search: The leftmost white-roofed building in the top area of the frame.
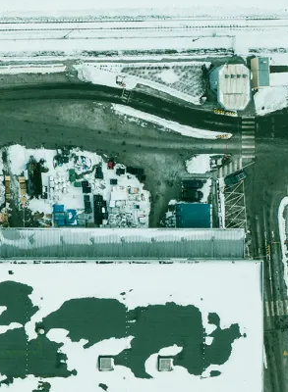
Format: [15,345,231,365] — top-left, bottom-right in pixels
[203,63,250,112]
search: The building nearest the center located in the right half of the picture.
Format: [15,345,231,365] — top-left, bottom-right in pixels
[171,204,211,227]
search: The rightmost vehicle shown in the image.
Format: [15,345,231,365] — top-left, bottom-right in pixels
[221,170,247,185]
